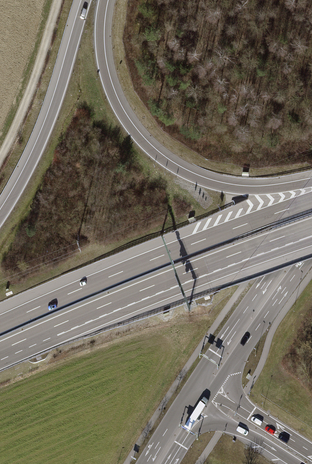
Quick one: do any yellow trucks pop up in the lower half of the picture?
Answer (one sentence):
No, there is no yellow truck in the lower half of the picture.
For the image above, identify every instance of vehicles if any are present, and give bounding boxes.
[240,332,251,346]
[236,426,248,436]
[80,8,87,20]
[185,395,210,430]
[265,426,276,434]
[252,416,262,426]
[48,302,58,310]
[278,434,290,443]
[77,279,88,286]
